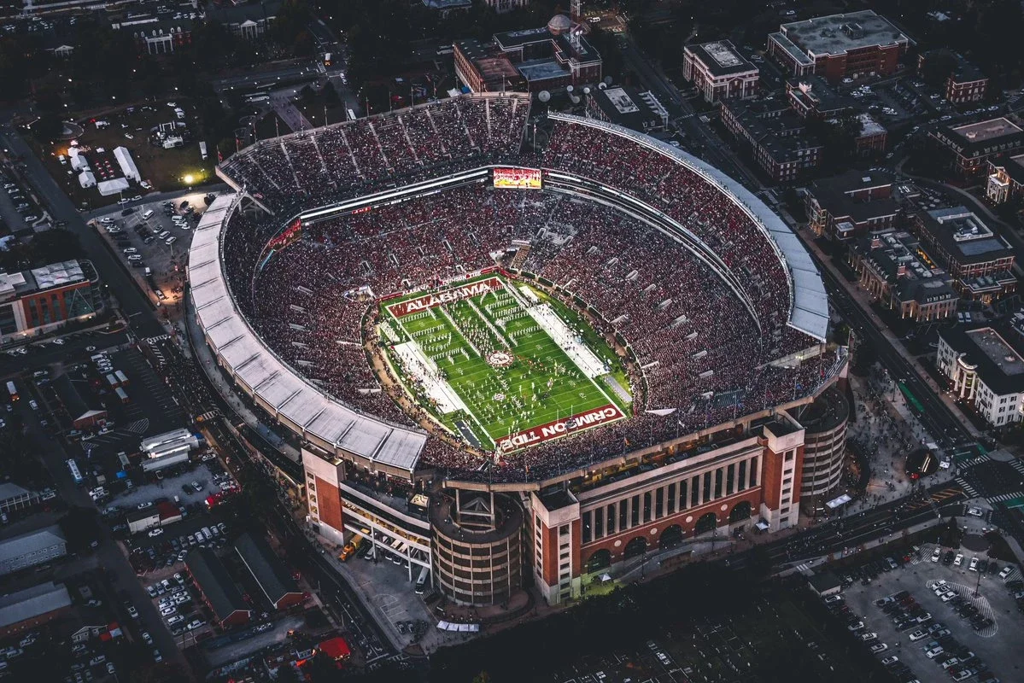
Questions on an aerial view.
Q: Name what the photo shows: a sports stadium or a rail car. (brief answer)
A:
sports stadium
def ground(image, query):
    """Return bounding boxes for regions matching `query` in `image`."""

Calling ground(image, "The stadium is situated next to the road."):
[184,90,855,610]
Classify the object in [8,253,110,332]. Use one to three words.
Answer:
building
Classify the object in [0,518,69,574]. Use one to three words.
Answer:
shed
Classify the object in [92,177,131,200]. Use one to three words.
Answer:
tent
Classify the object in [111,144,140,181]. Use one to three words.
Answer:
tent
